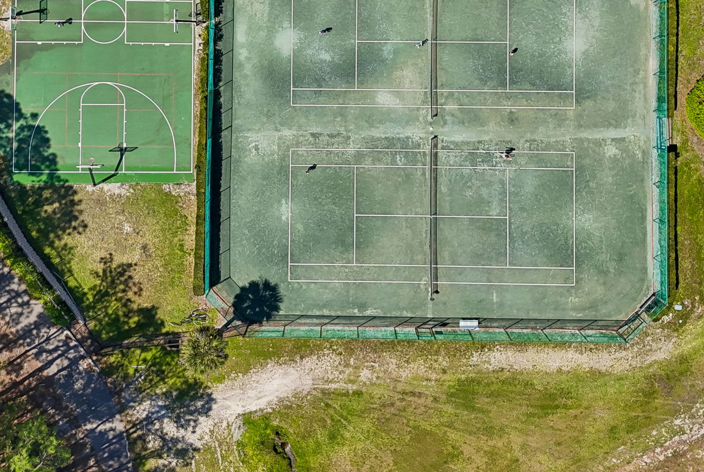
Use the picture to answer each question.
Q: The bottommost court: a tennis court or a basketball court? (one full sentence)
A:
The bottommost court can be classified as a tennis court.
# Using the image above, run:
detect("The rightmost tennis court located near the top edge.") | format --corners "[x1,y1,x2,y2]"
[213,0,652,131]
